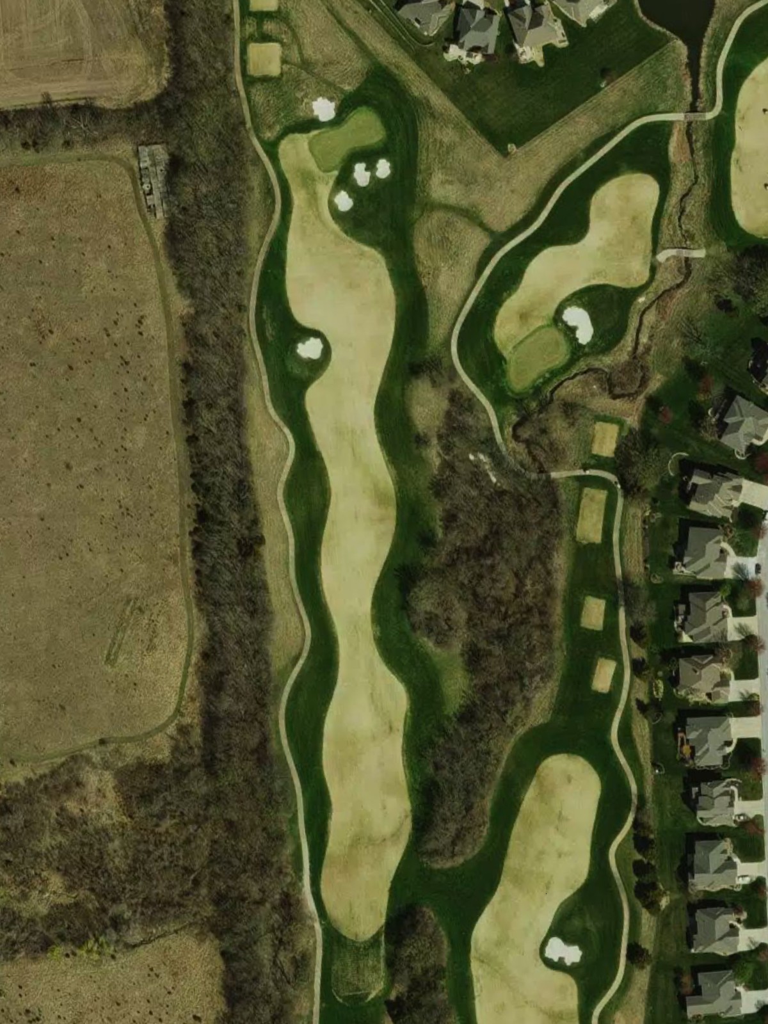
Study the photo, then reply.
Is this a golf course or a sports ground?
golf course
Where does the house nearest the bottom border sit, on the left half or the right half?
right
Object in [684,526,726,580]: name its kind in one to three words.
house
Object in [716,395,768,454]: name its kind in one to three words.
house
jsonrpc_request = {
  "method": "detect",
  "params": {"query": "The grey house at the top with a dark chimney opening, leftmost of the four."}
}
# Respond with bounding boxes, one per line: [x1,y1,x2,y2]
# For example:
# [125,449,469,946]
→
[397,0,453,34]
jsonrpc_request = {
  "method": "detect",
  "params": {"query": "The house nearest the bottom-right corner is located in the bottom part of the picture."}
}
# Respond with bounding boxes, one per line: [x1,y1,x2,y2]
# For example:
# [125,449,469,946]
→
[688,972,743,1019]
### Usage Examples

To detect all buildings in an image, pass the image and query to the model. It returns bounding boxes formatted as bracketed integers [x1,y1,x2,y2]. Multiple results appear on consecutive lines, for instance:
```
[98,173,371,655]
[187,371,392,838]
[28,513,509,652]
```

[687,717,734,766]
[688,593,730,643]
[397,0,453,34]
[689,842,739,889]
[716,395,768,454]
[684,526,726,580]
[698,783,735,826]
[688,972,743,1019]
[694,908,741,954]
[508,0,560,45]
[681,655,731,703]
[555,0,606,25]
[456,4,499,54]
[687,469,745,520]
